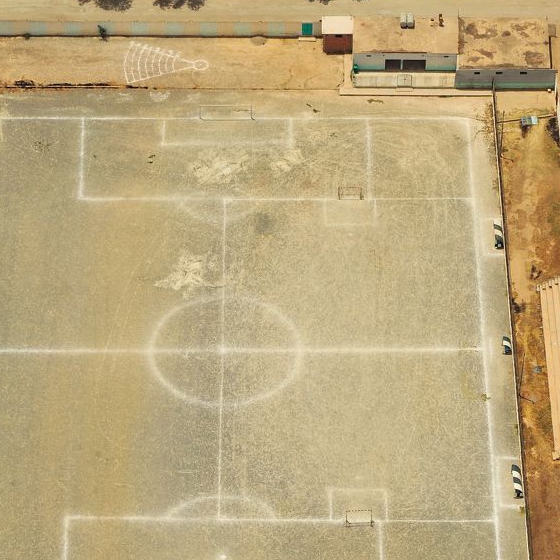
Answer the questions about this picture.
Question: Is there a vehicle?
No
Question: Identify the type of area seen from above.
sports ground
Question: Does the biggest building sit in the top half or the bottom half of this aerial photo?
top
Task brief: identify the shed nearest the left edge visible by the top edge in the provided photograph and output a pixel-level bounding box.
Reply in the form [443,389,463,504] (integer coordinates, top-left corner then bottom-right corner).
[321,15,354,54]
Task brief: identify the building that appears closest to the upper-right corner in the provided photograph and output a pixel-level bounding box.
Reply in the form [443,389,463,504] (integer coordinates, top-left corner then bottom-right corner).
[456,18,559,90]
